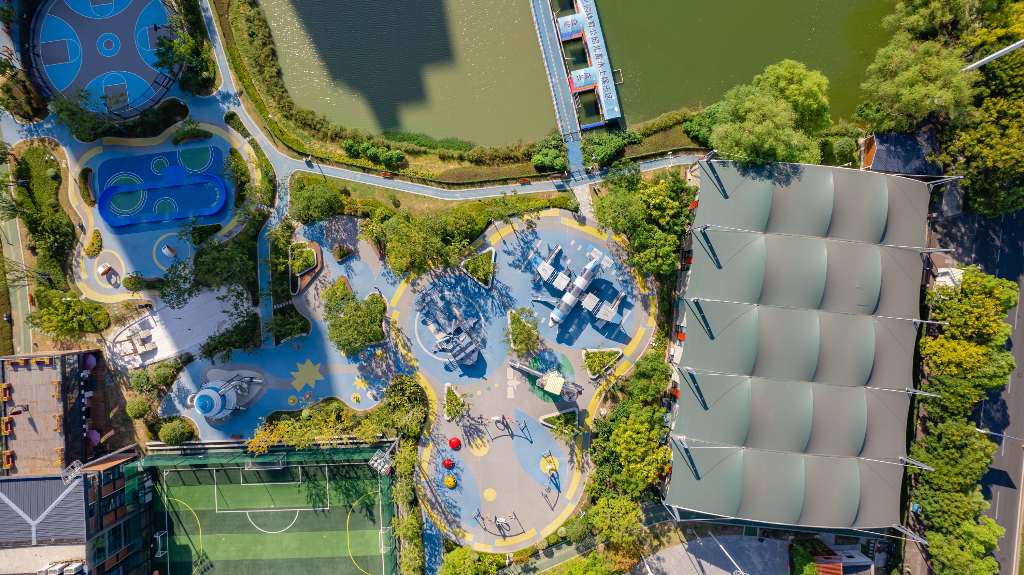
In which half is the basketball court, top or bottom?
top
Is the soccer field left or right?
left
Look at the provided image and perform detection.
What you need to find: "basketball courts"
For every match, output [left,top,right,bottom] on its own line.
[30,0,186,123]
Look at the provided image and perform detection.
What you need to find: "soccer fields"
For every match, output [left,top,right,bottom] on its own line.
[153,449,400,575]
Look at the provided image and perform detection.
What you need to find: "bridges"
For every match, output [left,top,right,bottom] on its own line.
[528,0,586,170]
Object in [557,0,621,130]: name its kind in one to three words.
pier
